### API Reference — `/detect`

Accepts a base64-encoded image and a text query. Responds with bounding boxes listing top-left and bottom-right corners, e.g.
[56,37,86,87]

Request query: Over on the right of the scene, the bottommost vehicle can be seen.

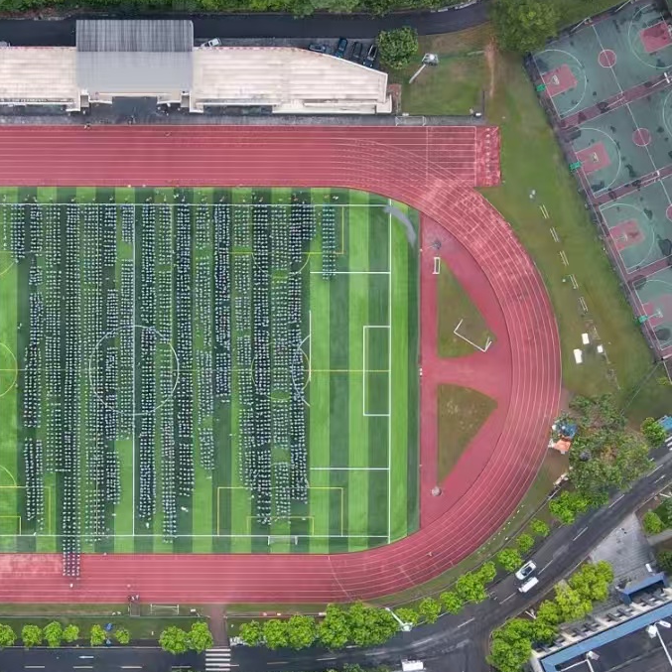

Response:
[398,656,424,670]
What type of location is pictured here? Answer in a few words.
sports ground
